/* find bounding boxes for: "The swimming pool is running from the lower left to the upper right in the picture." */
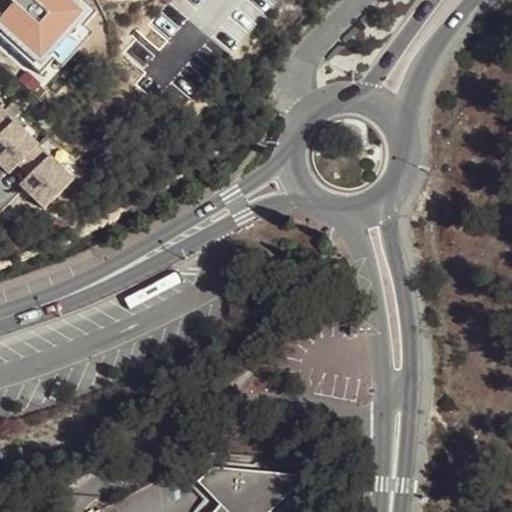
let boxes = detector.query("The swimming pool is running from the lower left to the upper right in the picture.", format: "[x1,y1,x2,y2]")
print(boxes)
[55,36,78,60]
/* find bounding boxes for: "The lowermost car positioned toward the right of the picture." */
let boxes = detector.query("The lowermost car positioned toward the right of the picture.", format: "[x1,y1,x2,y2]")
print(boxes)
[338,84,362,101]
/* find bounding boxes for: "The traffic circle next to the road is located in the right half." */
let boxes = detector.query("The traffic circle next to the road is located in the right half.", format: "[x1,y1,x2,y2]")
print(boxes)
[256,80,422,259]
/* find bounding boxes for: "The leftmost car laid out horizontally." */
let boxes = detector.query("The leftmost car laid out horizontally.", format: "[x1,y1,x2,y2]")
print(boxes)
[16,310,42,324]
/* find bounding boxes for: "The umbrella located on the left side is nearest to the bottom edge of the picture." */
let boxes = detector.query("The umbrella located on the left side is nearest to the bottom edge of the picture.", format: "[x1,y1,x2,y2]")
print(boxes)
[55,149,68,162]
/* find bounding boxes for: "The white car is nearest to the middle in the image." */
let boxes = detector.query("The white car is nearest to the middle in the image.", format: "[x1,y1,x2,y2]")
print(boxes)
[195,202,216,218]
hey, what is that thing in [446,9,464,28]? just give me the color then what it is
white car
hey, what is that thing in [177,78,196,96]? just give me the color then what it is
white car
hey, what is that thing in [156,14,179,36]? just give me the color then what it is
white vehicle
